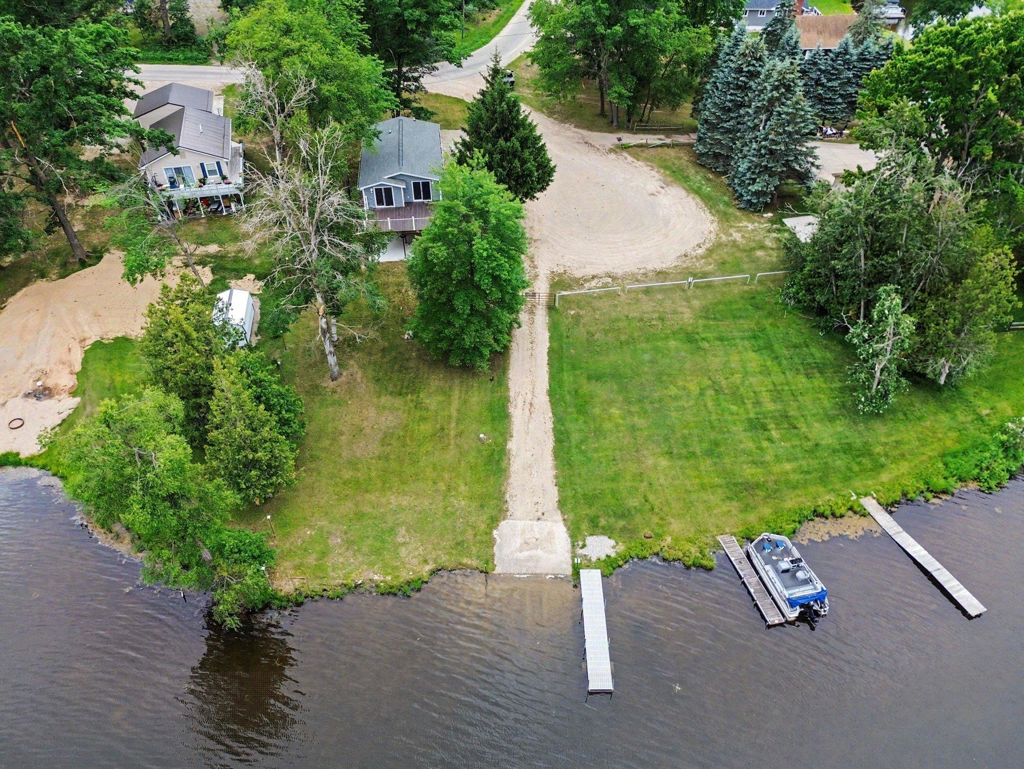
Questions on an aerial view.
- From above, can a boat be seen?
Yes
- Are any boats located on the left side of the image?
No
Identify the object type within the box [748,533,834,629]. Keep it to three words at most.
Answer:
boat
